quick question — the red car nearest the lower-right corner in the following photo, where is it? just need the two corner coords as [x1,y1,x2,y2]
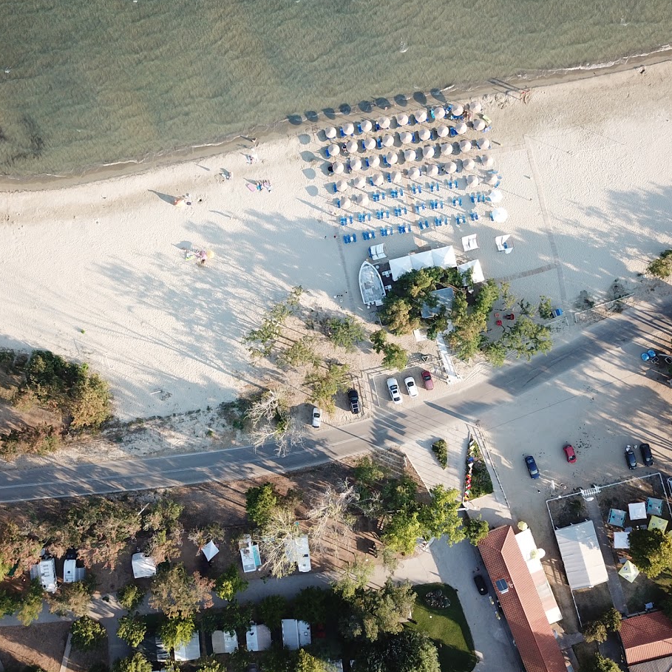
[561,442,577,464]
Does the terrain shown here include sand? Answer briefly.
Yes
